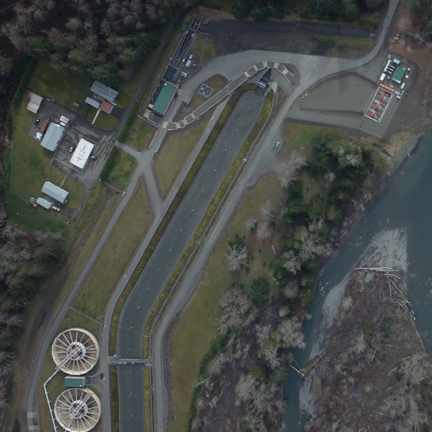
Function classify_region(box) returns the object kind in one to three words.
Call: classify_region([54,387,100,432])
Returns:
storage tank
